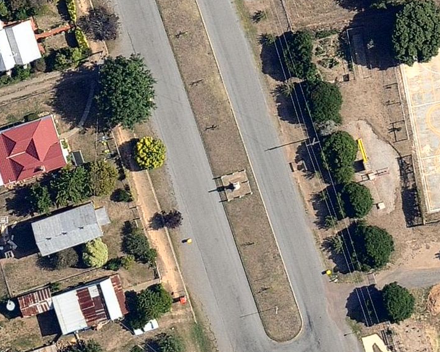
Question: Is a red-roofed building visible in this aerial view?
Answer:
Yes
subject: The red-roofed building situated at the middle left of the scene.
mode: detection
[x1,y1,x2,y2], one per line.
[0,116,68,185]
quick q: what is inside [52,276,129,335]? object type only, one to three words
house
